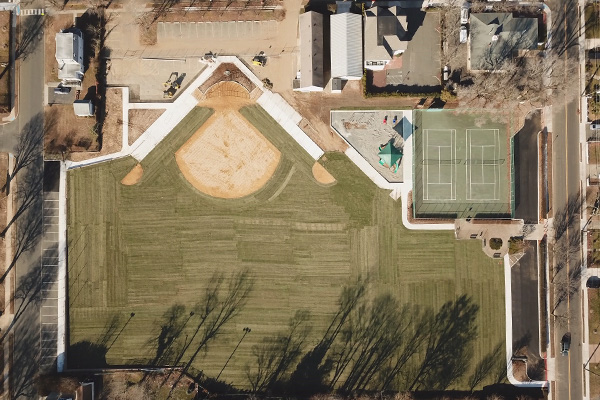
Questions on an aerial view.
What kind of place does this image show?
sports ground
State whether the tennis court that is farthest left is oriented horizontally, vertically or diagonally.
vertically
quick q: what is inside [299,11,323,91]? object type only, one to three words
barn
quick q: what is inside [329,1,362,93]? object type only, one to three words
barn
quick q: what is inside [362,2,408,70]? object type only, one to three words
building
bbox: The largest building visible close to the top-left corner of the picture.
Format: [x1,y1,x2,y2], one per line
[56,32,84,88]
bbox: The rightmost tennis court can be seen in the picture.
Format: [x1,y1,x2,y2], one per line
[461,110,507,218]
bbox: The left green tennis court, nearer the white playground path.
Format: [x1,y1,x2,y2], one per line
[414,110,461,218]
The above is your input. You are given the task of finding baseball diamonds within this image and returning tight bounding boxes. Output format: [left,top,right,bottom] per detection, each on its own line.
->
[66,63,511,395]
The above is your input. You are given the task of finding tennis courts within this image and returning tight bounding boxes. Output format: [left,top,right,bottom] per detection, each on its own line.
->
[414,110,461,218]
[461,110,507,218]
